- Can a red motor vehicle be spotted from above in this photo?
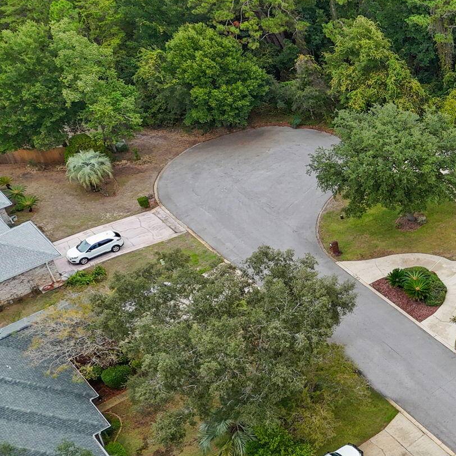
No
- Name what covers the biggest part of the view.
trees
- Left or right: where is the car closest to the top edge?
left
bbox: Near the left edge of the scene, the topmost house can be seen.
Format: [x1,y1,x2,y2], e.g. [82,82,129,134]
[0,189,66,316]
